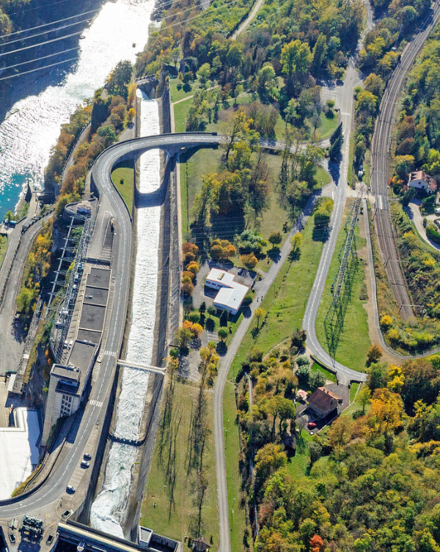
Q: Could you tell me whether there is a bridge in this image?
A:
Yes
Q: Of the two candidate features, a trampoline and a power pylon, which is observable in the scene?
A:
power pylon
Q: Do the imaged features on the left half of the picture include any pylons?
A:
No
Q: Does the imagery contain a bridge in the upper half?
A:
Yes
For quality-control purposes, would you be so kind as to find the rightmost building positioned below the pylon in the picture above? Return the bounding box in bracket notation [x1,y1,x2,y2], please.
[306,389,341,420]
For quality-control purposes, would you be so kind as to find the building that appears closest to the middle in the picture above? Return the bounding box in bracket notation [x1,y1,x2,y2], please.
[205,268,250,314]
